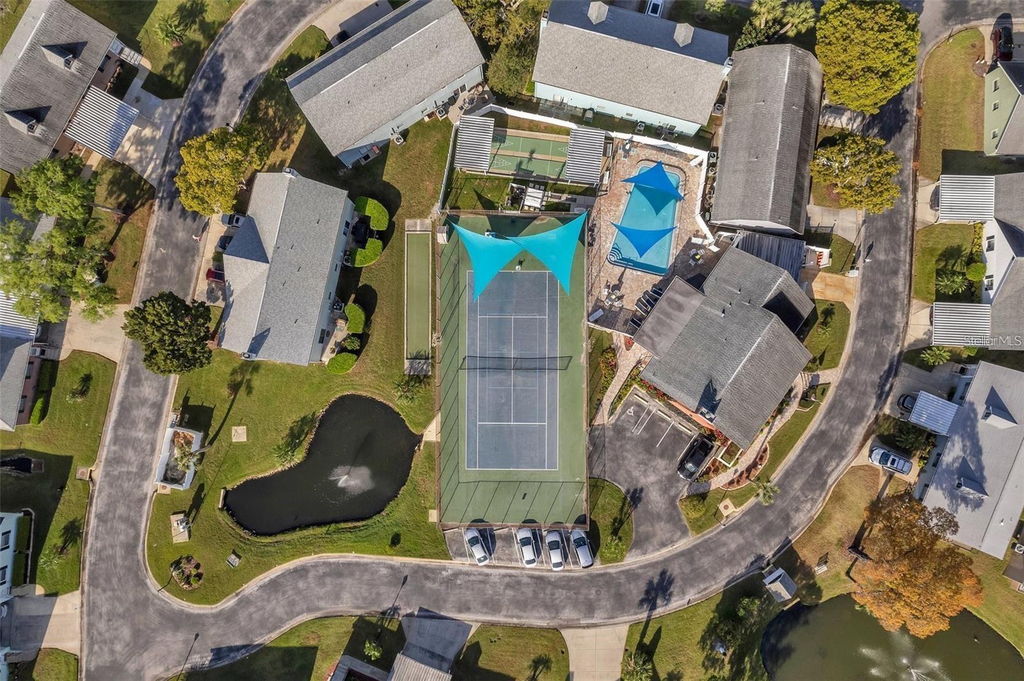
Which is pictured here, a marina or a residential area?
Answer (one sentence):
The picture captures a residential area.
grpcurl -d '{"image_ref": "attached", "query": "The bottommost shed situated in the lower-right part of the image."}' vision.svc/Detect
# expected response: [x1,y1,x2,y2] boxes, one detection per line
[769,574,800,606]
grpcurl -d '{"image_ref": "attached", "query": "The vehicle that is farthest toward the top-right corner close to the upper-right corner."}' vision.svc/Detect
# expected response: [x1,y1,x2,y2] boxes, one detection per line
[991,25,1016,62]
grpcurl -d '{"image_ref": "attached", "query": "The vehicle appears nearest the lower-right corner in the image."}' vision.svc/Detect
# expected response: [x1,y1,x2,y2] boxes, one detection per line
[867,448,914,474]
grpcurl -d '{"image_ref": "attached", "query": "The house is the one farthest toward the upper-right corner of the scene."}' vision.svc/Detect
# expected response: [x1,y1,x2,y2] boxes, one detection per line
[979,61,1024,159]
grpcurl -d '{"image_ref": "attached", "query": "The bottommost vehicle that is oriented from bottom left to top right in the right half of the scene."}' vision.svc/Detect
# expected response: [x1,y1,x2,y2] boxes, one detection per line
[677,432,717,482]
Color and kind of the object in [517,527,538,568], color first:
white car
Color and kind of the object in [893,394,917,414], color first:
black car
